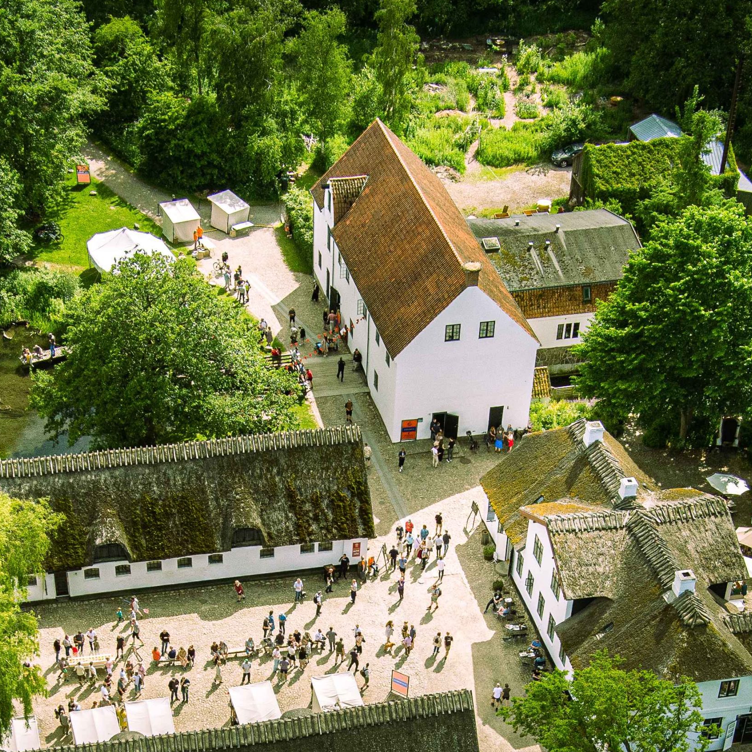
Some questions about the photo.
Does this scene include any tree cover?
Yes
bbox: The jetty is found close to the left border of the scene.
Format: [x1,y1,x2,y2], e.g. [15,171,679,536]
[17,343,78,371]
